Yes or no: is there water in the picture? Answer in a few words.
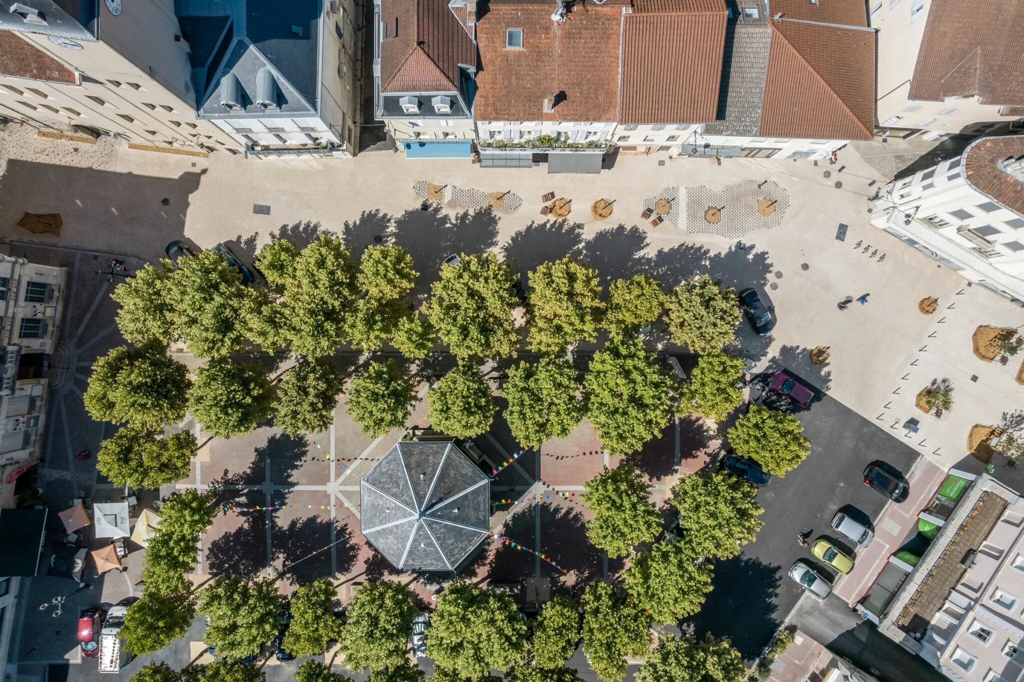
No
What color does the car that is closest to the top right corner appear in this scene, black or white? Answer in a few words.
black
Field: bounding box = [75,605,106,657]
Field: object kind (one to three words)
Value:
car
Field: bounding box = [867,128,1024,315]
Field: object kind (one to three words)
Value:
building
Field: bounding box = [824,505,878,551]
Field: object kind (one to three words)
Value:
car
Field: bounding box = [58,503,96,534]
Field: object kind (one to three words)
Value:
umbrella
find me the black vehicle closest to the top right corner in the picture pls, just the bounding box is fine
[738,282,778,340]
